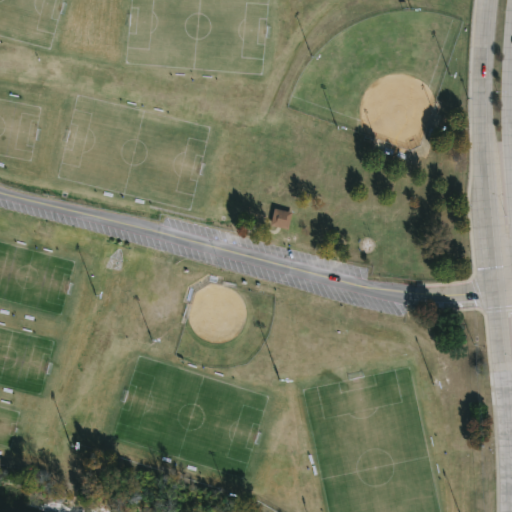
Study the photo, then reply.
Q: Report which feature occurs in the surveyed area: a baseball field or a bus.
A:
baseball field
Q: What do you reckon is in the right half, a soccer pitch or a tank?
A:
soccer pitch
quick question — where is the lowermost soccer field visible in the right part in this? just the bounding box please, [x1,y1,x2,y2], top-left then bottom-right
[302,366,442,512]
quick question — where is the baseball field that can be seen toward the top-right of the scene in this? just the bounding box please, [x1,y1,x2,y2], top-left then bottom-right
[312,24,452,150]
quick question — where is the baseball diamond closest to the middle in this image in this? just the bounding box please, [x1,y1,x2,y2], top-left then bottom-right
[184,275,248,344]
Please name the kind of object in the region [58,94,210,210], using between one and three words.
soccer field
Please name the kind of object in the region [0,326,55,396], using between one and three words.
soccer field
